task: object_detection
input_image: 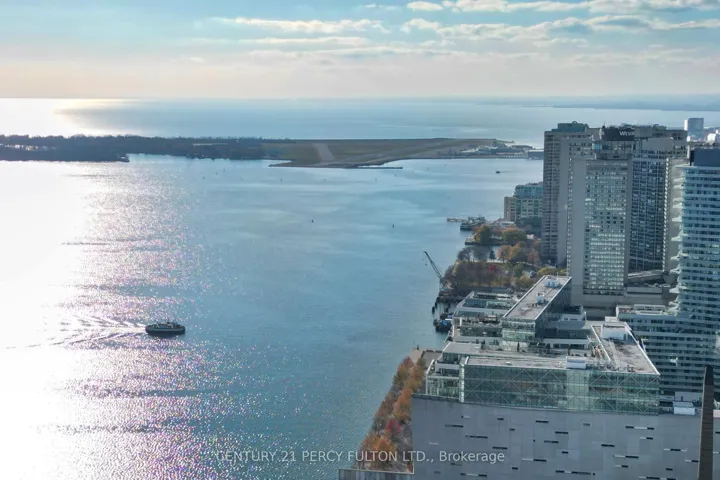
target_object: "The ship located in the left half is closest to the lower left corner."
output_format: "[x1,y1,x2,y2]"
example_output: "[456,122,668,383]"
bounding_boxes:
[145,320,186,334]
